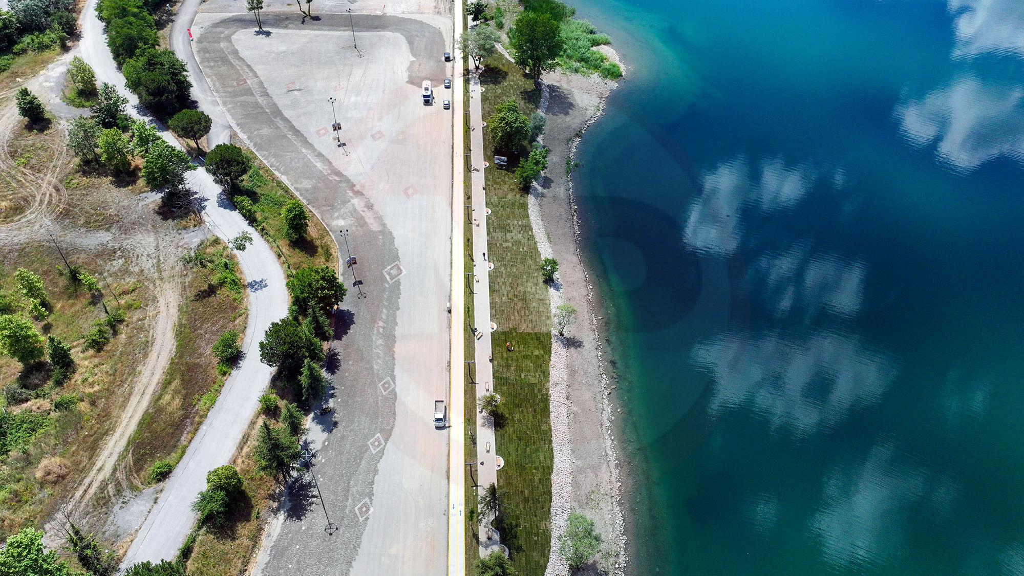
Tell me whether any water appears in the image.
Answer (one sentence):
Yes, the picture does contain water.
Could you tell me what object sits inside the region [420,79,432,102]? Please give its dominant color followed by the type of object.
white vehicle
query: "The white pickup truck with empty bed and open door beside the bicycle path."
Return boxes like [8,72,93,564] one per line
[432,396,448,425]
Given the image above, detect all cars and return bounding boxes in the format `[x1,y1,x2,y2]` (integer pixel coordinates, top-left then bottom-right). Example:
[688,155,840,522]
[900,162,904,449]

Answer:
[442,98,450,108]
[444,52,450,61]
[443,77,451,87]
